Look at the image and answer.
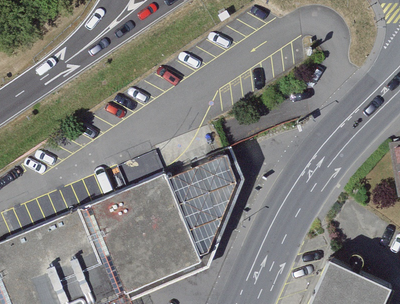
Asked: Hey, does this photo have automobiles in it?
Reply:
Yes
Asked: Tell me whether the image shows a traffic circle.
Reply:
No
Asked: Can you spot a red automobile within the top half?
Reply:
Yes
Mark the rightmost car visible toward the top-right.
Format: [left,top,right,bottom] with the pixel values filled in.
[386,70,400,90]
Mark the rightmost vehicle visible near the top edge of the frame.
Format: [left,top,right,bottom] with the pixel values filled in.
[250,6,270,22]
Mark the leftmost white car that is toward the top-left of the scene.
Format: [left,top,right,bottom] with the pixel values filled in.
[36,58,56,76]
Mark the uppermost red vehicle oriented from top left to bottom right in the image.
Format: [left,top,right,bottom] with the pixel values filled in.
[156,68,180,86]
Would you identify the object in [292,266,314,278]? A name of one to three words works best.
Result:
vehicle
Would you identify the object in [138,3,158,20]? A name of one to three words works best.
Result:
car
